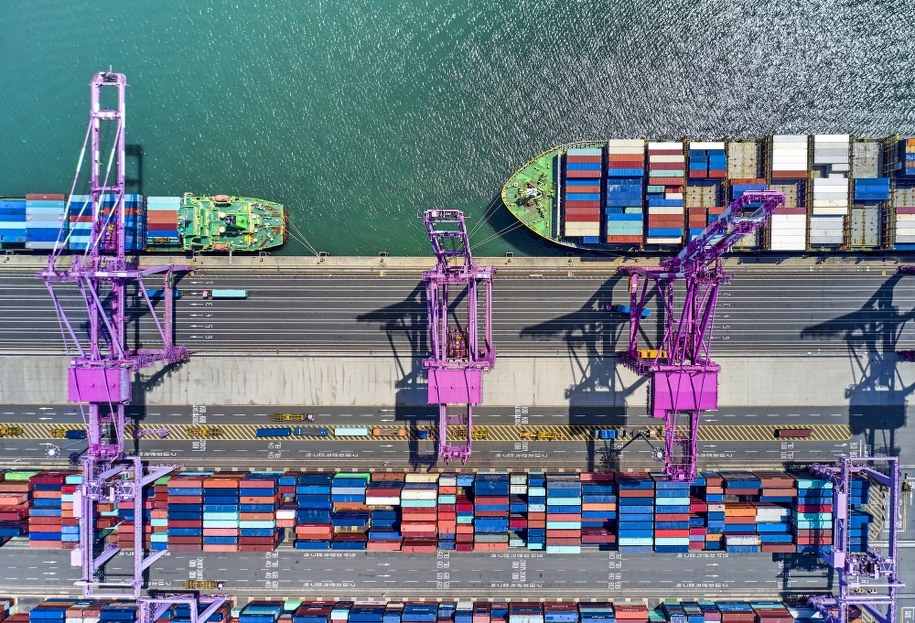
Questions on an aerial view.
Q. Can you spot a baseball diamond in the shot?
No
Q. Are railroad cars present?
No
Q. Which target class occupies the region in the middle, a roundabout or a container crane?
container crane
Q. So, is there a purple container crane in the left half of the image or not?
Yes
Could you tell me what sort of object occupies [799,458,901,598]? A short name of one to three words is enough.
container crane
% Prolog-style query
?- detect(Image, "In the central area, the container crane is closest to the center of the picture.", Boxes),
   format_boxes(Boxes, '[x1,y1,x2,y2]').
[404,206,505,466]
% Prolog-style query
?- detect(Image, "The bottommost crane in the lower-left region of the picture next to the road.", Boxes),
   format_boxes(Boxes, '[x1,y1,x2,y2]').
[130,592,236,623]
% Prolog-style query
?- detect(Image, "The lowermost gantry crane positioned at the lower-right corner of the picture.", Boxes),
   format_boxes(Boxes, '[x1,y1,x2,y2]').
[799,592,901,623]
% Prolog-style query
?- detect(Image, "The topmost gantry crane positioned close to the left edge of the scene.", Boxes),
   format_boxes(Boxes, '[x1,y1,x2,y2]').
[27,59,208,466]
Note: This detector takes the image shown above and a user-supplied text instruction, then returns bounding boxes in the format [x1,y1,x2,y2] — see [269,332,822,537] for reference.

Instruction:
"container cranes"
[799,592,901,623]
[799,458,901,598]
[614,194,786,480]
[27,59,208,466]
[404,206,505,466]
[72,456,183,597]
[130,592,236,623]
